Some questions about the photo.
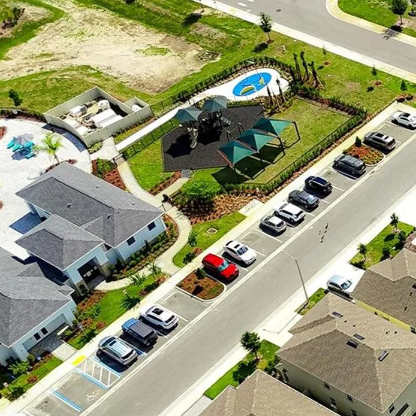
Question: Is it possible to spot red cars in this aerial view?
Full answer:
Yes, a red car appears in the view.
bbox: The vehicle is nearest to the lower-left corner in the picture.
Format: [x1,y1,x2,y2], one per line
[94,341,137,371]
